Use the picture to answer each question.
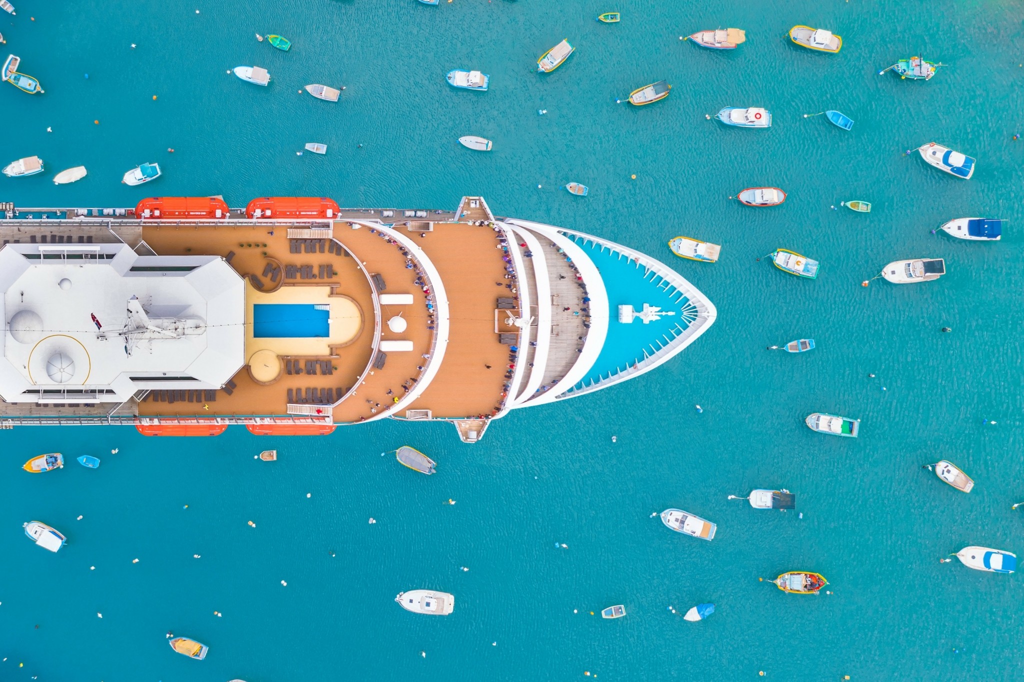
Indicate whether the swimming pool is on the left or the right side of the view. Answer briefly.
left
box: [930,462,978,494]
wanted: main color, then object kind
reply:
white boat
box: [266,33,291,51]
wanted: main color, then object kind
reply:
green boat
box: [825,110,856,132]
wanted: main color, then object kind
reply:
blue boat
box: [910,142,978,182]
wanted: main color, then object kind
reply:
white boat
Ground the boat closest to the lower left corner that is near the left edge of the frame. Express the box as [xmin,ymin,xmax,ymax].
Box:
[23,520,70,554]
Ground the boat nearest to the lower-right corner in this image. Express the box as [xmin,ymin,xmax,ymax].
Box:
[950,544,1019,576]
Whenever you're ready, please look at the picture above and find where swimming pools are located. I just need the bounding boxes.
[253,304,333,338]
